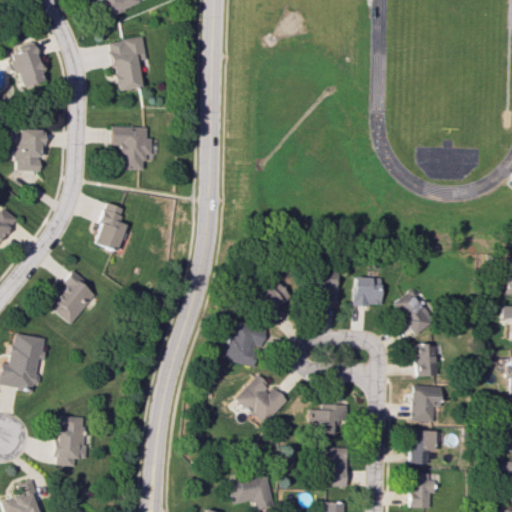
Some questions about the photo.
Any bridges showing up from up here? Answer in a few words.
No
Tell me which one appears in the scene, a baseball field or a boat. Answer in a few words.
baseball field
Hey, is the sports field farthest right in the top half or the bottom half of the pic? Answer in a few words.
top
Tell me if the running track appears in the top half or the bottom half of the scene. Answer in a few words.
top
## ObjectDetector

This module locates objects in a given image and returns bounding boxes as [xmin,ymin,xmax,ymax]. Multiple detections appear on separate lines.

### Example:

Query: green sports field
[386,0,512,186]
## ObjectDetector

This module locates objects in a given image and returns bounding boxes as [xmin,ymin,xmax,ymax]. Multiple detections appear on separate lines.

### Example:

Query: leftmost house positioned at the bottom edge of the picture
[2,478,44,512]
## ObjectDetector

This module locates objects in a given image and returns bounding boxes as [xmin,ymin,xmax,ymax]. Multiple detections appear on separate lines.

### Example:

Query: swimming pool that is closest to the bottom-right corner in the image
[444,432,459,448]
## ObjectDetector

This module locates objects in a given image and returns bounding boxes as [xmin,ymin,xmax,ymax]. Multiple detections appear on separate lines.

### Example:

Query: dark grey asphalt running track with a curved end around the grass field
[370,0,512,202]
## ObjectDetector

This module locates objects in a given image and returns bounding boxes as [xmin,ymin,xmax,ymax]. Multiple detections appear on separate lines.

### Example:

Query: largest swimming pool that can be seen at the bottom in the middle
[298,492,314,508]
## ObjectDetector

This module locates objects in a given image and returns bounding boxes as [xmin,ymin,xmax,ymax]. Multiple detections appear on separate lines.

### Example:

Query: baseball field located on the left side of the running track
[262,4,309,48]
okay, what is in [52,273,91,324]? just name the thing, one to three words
house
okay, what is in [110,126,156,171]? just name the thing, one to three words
house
